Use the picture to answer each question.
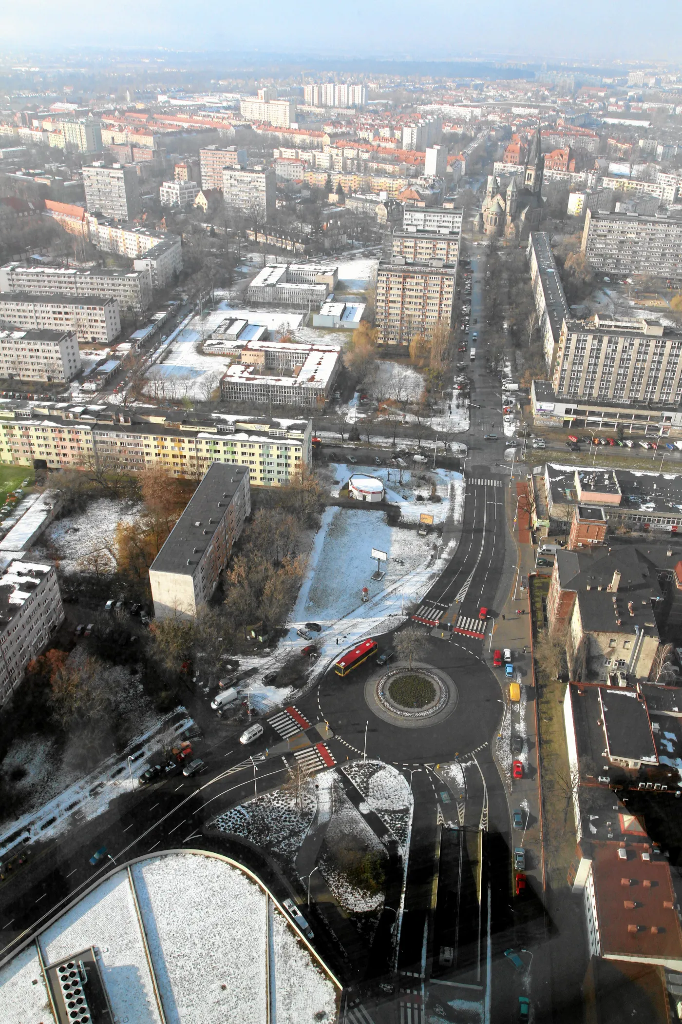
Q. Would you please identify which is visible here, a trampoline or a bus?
bus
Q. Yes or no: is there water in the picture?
No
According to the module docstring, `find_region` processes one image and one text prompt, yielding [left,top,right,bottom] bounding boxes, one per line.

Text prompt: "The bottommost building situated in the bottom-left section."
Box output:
[0,849,343,1024]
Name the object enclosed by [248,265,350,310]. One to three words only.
building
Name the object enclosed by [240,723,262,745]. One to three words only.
vehicle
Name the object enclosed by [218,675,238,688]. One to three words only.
vehicle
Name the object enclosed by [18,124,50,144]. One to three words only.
house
